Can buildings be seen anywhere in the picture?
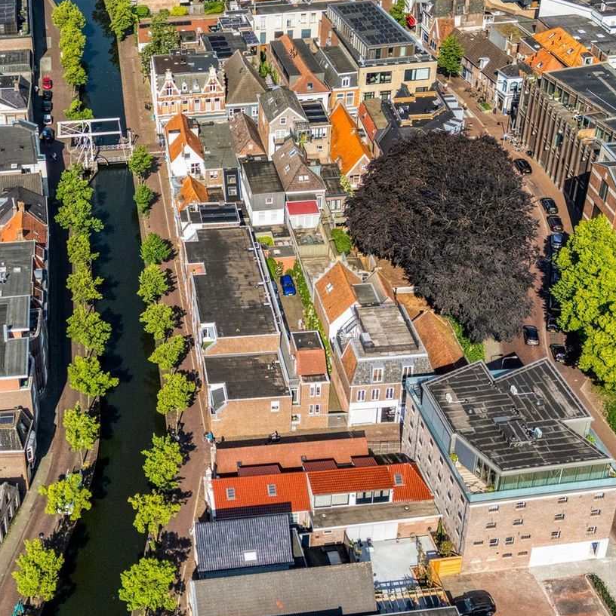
Yes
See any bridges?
Yes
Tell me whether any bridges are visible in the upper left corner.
Yes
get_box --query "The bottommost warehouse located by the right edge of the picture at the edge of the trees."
[402,357,616,575]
